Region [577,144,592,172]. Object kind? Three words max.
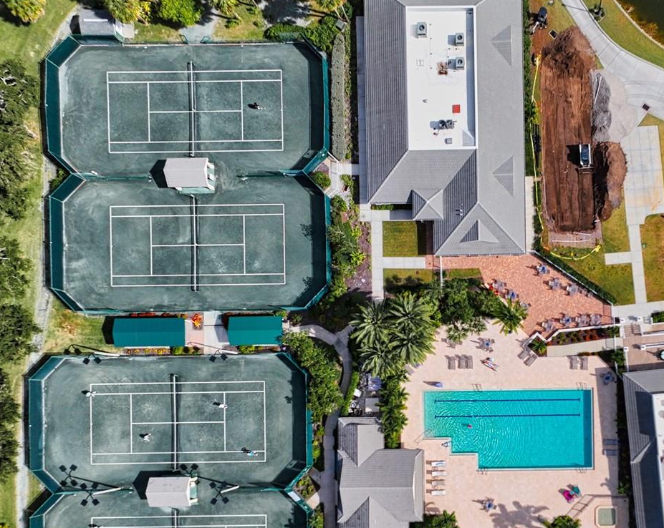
work vehicle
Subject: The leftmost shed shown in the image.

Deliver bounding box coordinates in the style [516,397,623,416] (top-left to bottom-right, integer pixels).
[75,9,123,41]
